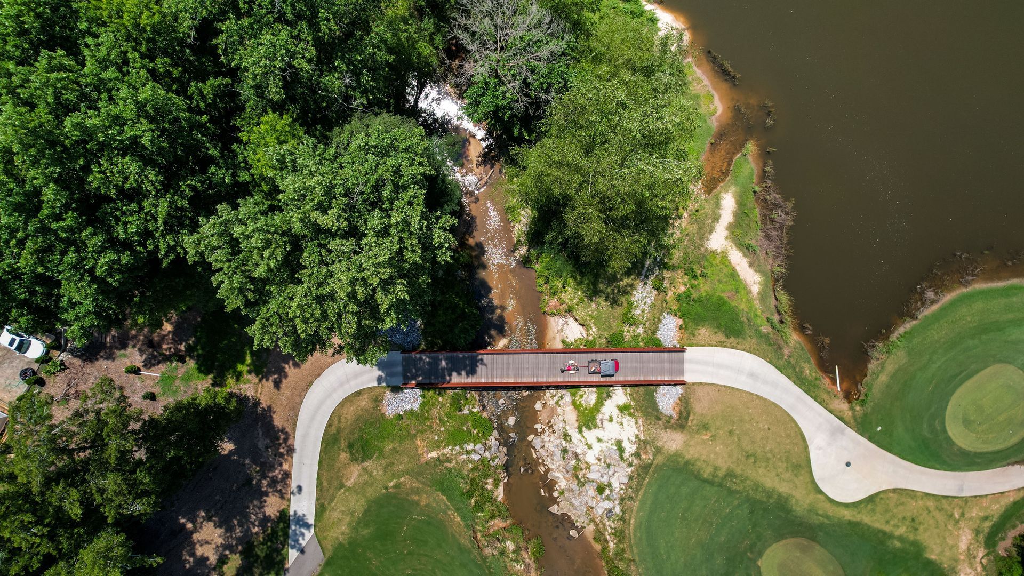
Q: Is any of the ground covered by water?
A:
Yes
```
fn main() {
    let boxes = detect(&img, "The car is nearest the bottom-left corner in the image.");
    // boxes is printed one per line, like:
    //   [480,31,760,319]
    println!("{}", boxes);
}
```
[0,327,43,359]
